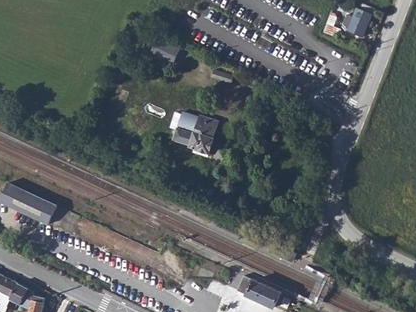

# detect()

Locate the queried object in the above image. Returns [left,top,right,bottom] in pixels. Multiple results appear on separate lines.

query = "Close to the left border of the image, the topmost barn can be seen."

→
[0,183,56,225]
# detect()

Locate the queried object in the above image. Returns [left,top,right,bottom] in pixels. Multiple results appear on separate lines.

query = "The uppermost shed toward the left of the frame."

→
[152,38,180,60]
